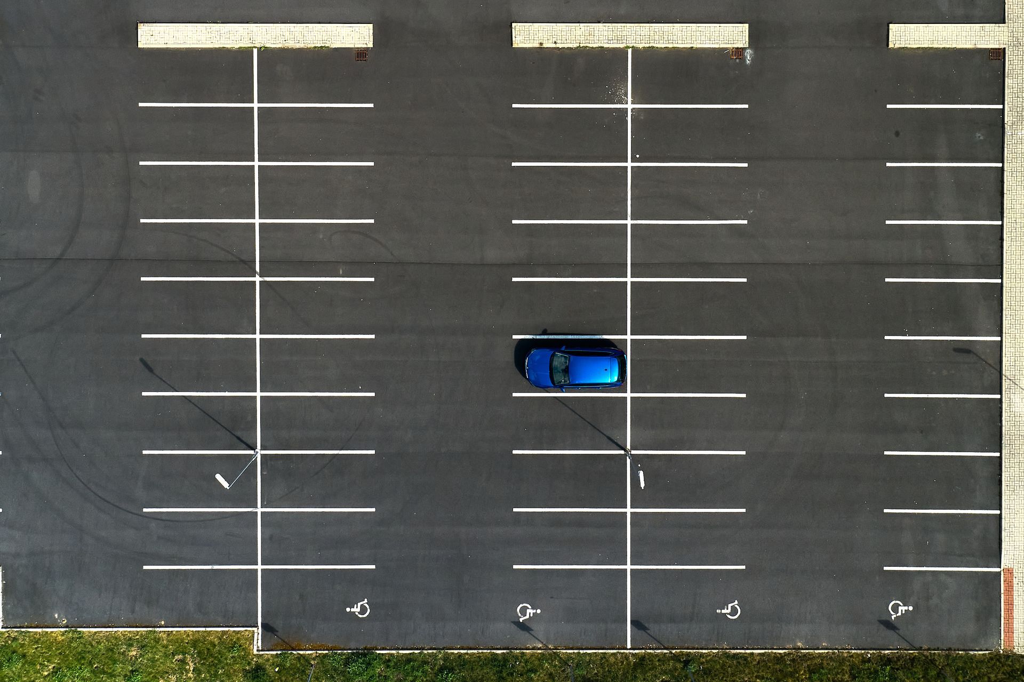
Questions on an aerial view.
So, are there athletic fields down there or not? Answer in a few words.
No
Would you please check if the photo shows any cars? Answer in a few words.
Yes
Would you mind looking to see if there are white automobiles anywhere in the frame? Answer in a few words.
No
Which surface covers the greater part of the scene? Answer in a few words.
paved ground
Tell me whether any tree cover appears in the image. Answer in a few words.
No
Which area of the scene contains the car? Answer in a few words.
center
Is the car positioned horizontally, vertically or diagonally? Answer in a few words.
horizontally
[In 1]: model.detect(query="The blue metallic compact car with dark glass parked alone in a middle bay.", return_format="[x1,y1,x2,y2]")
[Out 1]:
[525,344,627,394]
